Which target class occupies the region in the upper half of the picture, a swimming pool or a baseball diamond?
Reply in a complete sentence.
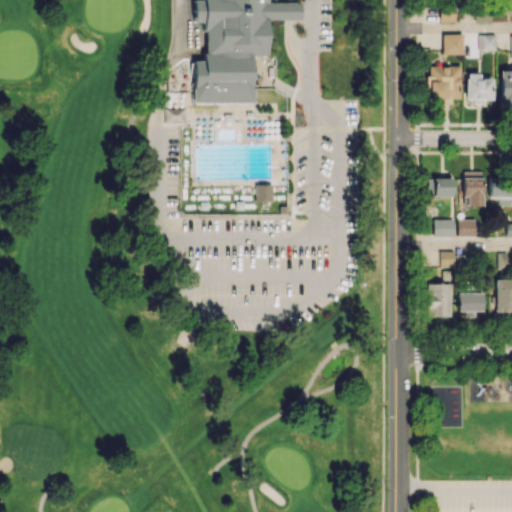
It is a swimming pool that can be seen in the upper half of the picture.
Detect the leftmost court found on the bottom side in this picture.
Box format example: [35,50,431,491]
[432,387,462,428]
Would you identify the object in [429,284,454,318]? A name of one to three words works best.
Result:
house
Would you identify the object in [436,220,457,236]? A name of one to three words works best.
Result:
building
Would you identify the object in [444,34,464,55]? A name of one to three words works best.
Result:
building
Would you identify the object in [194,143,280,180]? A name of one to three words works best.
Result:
swimming pool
